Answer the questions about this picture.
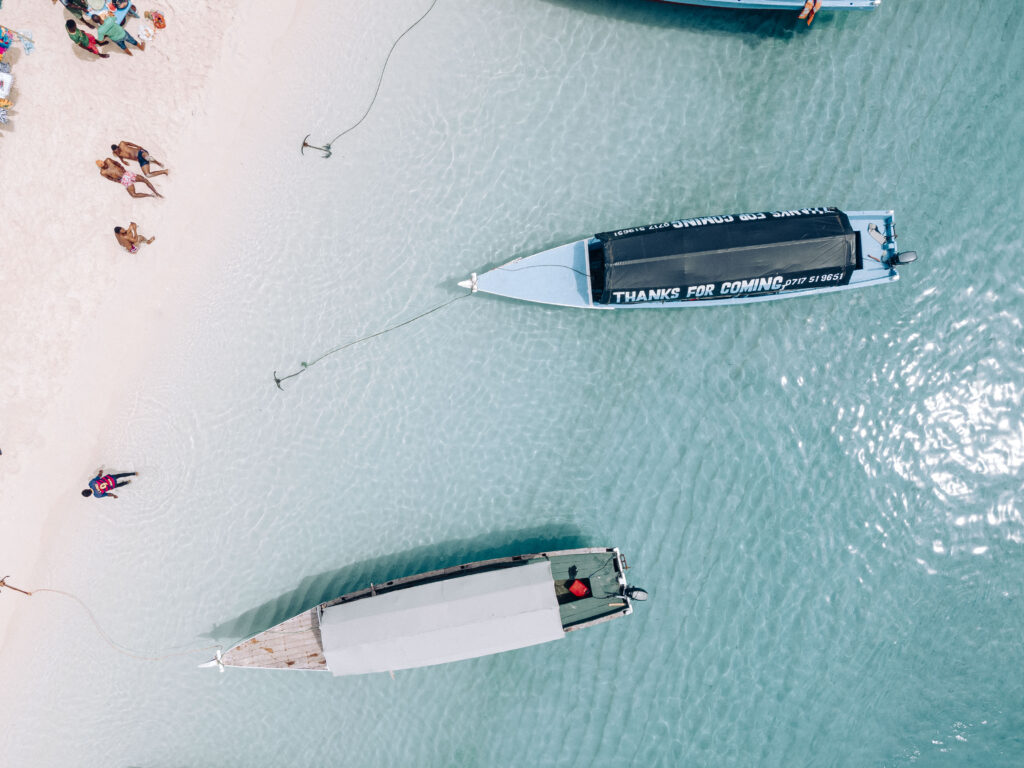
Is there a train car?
No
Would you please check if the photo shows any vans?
No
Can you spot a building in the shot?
No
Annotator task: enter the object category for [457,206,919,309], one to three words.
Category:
boat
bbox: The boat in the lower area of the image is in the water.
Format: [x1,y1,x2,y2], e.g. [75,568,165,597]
[198,544,645,678]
